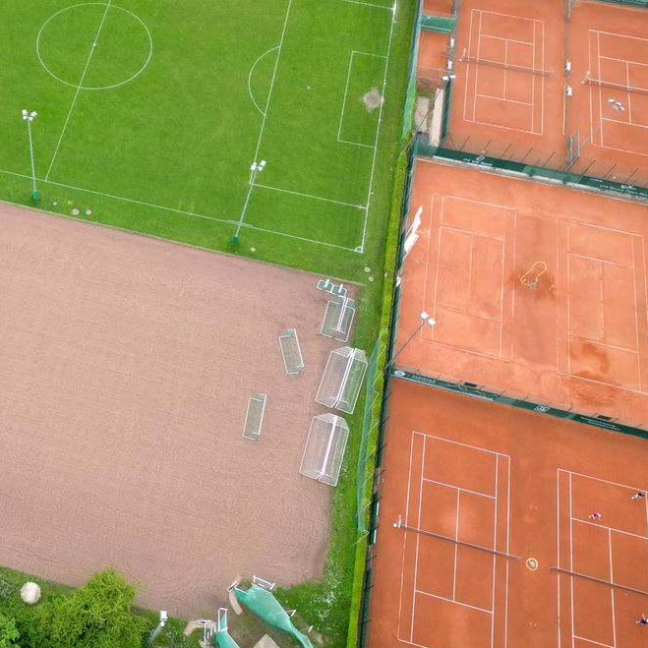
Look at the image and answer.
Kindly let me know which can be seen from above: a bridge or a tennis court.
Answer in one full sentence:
The image shows a tennis court.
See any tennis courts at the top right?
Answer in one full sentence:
Yes, a tennis court appears at the top right.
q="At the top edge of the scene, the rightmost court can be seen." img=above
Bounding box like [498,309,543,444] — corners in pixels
[565,0,648,188]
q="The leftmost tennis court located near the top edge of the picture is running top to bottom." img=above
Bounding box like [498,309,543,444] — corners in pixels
[412,0,459,106]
